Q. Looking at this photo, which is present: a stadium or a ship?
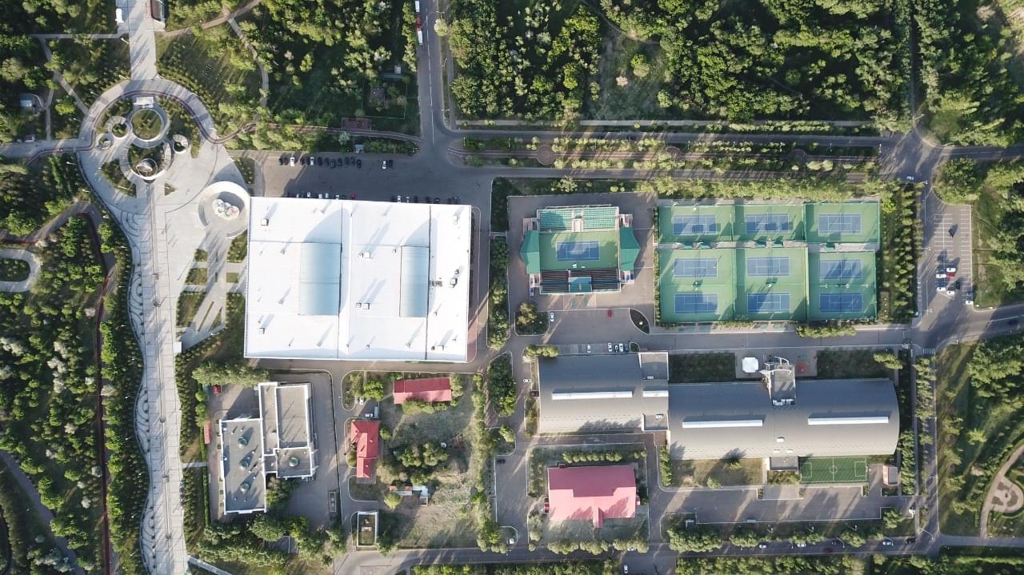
stadium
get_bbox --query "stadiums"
[520,205,640,296]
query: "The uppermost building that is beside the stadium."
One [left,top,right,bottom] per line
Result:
[245,196,472,363]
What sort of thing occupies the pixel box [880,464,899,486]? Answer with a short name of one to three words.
building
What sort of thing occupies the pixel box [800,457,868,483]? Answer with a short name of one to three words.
soccer field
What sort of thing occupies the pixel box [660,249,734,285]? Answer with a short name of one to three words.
tennis court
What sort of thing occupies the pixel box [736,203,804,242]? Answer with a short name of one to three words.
tennis court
